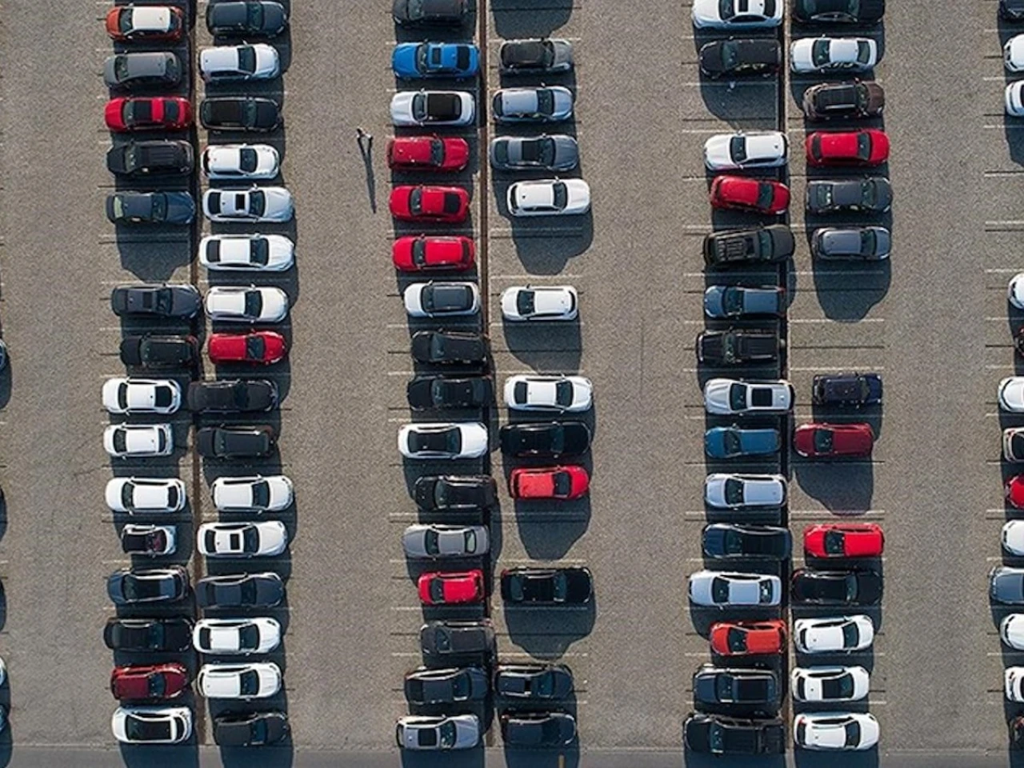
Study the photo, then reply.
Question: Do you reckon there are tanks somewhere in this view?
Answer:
No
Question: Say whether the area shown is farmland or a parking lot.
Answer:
parking lot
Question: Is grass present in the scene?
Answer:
No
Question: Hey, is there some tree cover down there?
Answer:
No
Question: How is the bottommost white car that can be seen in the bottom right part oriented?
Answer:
from left to right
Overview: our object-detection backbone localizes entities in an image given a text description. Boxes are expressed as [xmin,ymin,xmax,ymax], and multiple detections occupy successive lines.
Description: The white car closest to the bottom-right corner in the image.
[1001,664,1024,703]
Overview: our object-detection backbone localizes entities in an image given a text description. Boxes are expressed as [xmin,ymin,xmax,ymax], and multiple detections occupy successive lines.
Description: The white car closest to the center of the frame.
[503,374,594,414]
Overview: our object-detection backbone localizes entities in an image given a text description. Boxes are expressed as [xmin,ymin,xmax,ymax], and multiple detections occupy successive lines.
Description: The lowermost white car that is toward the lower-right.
[792,712,881,757]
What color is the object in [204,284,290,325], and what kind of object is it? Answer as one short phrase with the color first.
white car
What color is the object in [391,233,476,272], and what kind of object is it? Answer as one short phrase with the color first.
red car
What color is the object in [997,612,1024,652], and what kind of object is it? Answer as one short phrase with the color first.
white car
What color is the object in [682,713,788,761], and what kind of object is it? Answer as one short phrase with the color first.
black truck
